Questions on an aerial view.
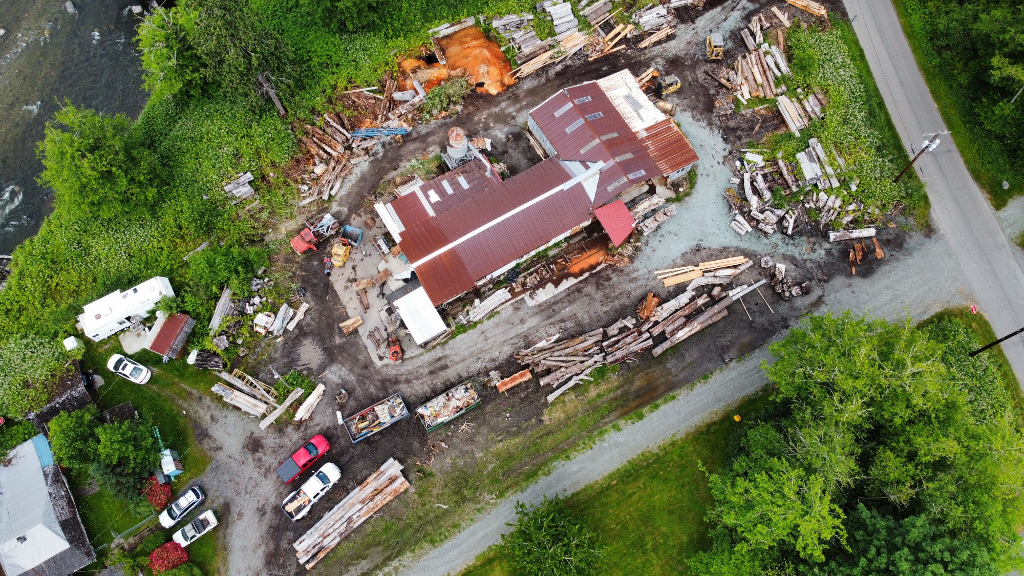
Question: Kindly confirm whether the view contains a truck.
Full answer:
Yes, I can see a truck in this picture.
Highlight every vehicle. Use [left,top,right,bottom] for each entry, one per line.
[105,353,156,387]
[328,238,353,269]
[278,464,344,523]
[385,335,405,363]
[649,74,684,100]
[80,371,99,394]
[290,215,342,258]
[705,33,725,72]
[158,484,206,530]
[273,435,333,487]
[174,507,221,548]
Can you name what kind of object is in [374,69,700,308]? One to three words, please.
building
